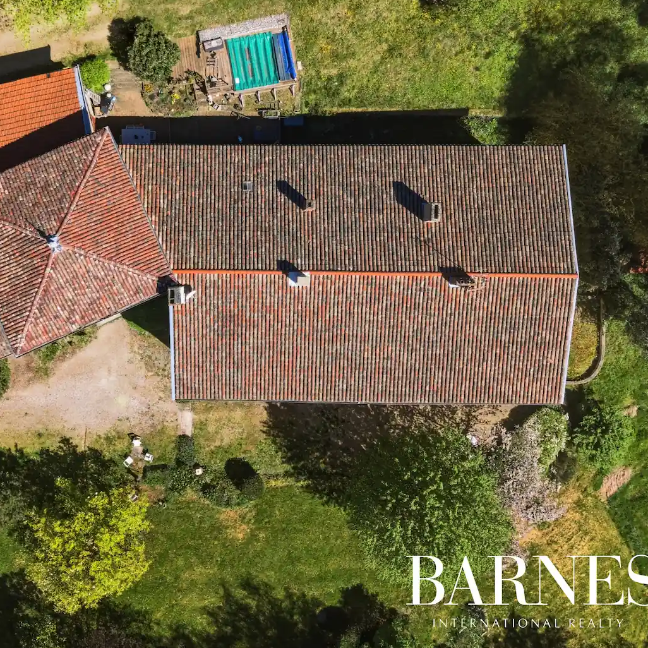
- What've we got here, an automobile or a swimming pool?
swimming pool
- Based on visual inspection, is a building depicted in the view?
Yes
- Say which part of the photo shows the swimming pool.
top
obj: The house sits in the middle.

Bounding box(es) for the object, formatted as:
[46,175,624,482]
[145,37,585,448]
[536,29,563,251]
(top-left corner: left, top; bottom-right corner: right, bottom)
[116,143,580,405]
